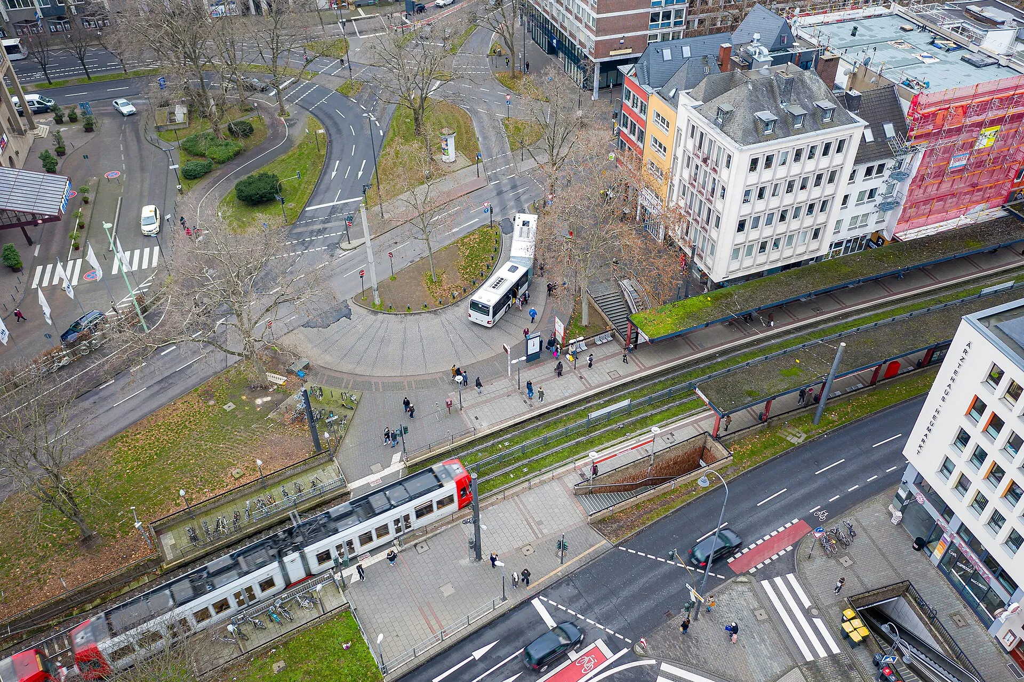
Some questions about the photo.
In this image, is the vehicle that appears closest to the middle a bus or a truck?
bus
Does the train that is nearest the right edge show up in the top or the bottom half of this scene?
bottom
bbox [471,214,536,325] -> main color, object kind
white bus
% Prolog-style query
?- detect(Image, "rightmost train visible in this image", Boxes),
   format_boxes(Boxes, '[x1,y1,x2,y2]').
[53,461,478,682]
